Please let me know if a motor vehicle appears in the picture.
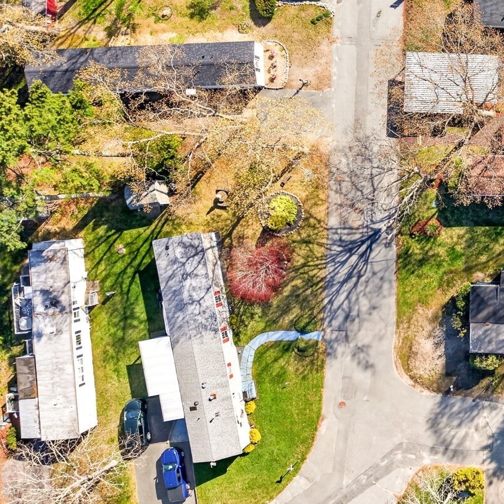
Yes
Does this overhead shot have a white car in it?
No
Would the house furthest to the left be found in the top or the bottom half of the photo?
bottom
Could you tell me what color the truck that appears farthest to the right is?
blue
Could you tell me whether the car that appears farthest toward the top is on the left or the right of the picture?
left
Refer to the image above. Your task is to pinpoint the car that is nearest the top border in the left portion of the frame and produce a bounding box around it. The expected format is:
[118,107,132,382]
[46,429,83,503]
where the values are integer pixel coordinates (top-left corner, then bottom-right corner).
[121,397,150,445]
